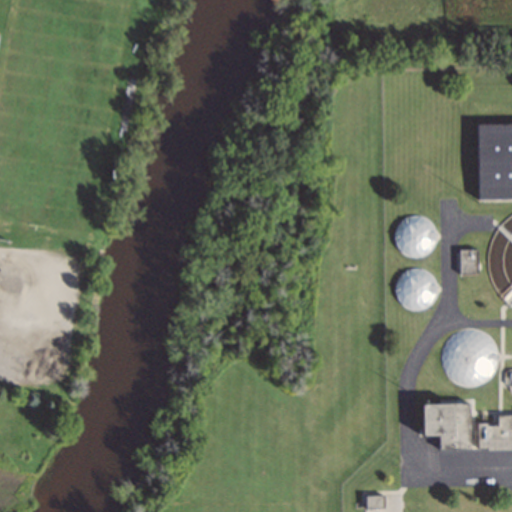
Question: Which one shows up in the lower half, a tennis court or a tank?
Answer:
tank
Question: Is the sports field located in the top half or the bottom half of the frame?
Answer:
top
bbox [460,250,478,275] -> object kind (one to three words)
building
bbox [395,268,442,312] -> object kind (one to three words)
storage tank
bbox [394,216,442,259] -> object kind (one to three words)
storage tank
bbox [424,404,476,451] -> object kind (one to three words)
building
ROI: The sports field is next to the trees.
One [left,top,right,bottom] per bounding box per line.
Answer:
[0,0,129,232]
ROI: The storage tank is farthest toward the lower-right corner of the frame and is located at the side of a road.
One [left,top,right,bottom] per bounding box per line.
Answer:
[440,328,500,388]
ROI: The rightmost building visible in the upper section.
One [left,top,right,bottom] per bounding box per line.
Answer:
[480,124,512,204]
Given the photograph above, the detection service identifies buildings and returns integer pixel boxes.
[367,496,385,508]
[472,421,478,447]
[480,124,512,204]
[460,250,478,275]
[424,404,476,451]
[479,416,512,450]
